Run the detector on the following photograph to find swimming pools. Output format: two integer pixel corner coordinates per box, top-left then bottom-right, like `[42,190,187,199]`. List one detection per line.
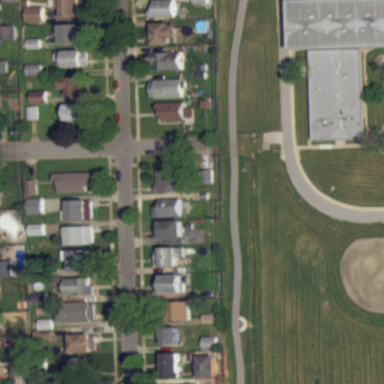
[0,212,22,242]
[34,281,44,292]
[196,20,210,32]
